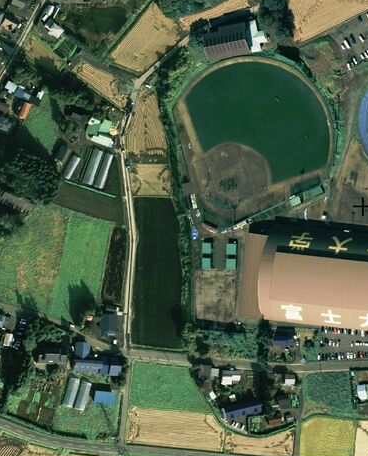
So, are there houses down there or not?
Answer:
Yes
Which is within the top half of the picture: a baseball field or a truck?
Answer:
baseball field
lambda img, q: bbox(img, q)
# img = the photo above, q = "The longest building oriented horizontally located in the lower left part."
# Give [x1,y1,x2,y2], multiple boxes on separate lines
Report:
[73,361,123,376]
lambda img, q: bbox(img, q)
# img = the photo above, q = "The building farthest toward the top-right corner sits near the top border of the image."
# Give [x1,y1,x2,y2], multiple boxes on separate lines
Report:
[203,20,269,64]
